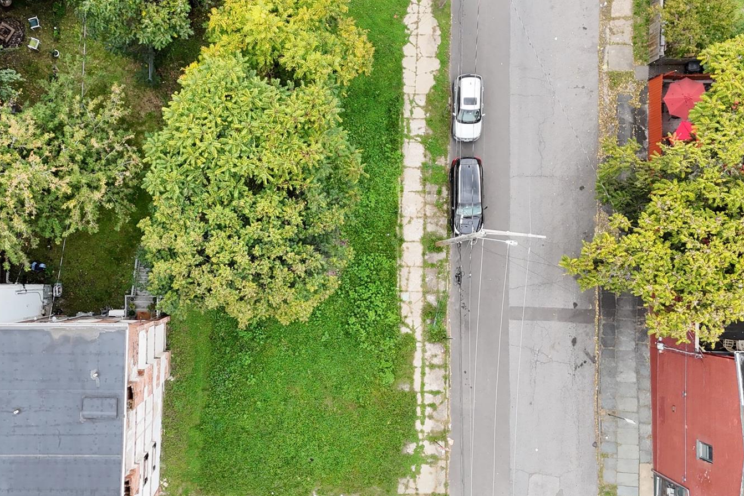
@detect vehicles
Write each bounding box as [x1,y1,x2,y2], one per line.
[448,75,485,145]
[448,158,486,236]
